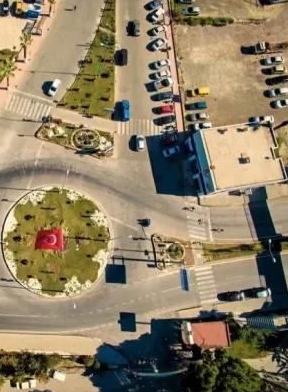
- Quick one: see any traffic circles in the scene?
Yes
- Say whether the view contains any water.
No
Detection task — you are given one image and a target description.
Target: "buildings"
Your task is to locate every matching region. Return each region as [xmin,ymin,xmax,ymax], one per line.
[182,122,288,195]
[181,317,231,346]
